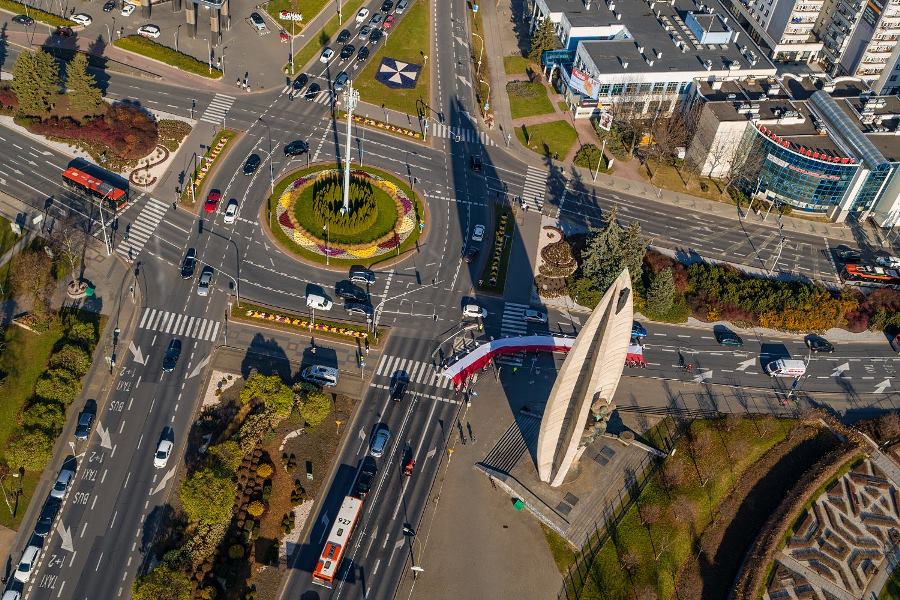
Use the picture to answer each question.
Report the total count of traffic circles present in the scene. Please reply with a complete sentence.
The count comes to 1 traffic circle.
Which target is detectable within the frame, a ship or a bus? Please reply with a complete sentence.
Of the two, only a bus appears.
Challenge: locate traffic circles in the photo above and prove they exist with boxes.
[258,161,432,271]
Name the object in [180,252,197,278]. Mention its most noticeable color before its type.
black car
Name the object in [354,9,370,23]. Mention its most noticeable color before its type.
white car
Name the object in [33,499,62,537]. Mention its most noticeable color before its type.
black car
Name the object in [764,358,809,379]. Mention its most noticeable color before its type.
white vehicle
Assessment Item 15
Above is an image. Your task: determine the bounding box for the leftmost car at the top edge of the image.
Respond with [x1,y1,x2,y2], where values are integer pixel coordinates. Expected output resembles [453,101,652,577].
[10,14,36,28]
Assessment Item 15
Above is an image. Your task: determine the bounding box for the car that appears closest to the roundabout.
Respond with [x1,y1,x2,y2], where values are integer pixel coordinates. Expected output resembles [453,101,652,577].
[345,266,378,285]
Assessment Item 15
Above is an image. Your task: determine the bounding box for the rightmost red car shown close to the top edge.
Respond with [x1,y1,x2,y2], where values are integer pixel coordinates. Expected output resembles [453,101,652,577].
[381,16,396,30]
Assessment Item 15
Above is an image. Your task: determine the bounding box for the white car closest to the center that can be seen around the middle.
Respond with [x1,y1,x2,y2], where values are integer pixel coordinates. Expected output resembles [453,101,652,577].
[460,303,488,320]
